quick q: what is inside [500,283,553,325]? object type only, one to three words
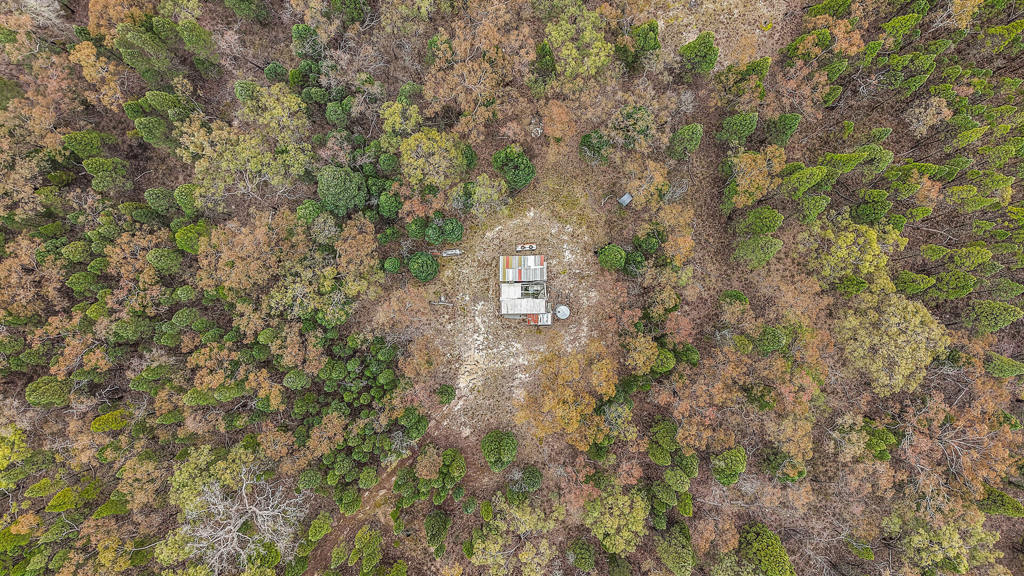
house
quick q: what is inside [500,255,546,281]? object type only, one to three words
shed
